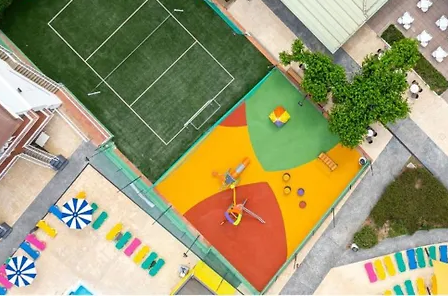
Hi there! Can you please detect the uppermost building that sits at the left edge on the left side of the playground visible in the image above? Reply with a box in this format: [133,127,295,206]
[0,57,65,178]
